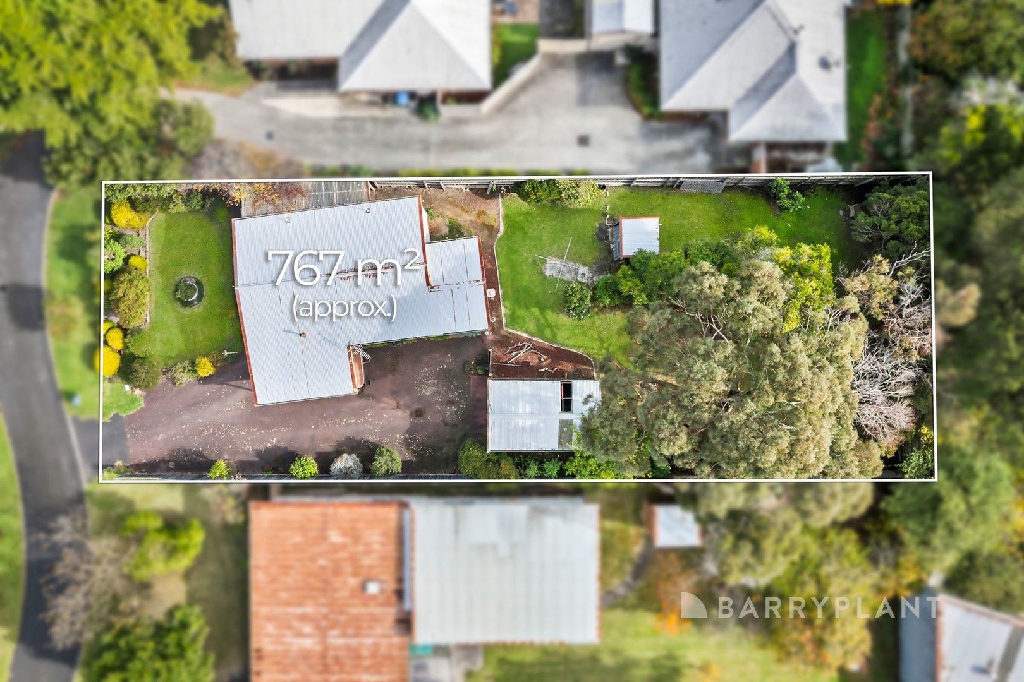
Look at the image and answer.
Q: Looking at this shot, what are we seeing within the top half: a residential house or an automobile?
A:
residential house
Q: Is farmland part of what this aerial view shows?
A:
No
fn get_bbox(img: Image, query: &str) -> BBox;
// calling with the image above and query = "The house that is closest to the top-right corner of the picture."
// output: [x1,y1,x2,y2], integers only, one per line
[655,0,857,145]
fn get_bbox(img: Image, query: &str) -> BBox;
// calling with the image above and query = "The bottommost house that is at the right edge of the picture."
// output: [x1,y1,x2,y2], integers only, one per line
[901,585,1024,682]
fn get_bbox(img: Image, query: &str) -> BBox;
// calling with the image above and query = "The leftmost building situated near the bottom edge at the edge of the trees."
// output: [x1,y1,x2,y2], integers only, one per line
[247,500,412,682]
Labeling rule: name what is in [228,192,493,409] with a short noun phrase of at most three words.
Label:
house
